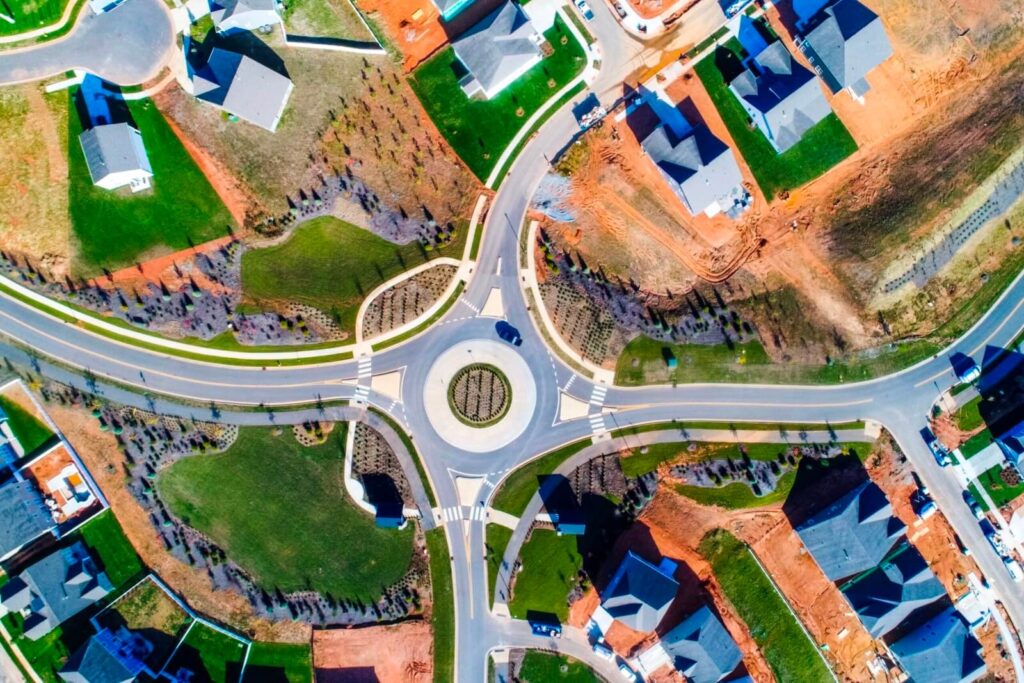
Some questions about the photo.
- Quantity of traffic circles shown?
1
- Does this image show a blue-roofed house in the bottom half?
Yes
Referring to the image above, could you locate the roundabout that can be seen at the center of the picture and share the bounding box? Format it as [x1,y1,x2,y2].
[342,257,616,535]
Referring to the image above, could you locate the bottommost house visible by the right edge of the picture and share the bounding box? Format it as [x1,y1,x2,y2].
[889,614,987,683]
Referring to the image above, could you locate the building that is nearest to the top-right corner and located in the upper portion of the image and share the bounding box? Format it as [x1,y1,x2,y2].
[796,0,893,101]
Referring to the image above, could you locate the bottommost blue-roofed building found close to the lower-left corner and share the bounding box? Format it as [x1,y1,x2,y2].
[58,636,141,683]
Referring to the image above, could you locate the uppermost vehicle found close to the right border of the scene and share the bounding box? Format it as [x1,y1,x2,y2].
[954,362,983,380]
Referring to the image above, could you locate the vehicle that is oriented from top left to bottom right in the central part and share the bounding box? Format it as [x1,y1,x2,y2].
[500,324,523,343]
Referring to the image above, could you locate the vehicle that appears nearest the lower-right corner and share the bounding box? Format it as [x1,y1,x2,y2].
[1001,558,1024,585]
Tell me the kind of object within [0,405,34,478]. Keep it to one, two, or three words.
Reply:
house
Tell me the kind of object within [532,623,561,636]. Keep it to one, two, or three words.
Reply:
vehicle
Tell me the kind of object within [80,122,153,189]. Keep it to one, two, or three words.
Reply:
house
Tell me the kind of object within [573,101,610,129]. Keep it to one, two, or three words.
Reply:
truck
